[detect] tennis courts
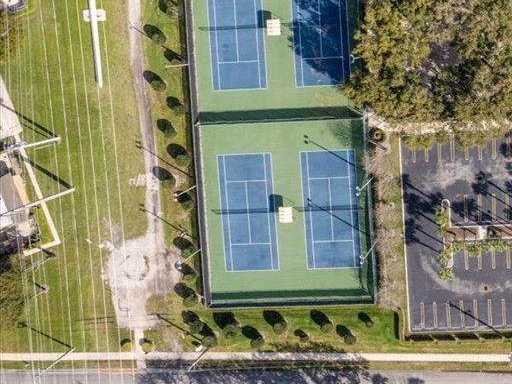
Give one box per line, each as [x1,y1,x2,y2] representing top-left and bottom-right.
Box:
[204,0,267,91]
[287,0,350,87]
[297,149,362,269]
[214,152,279,272]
